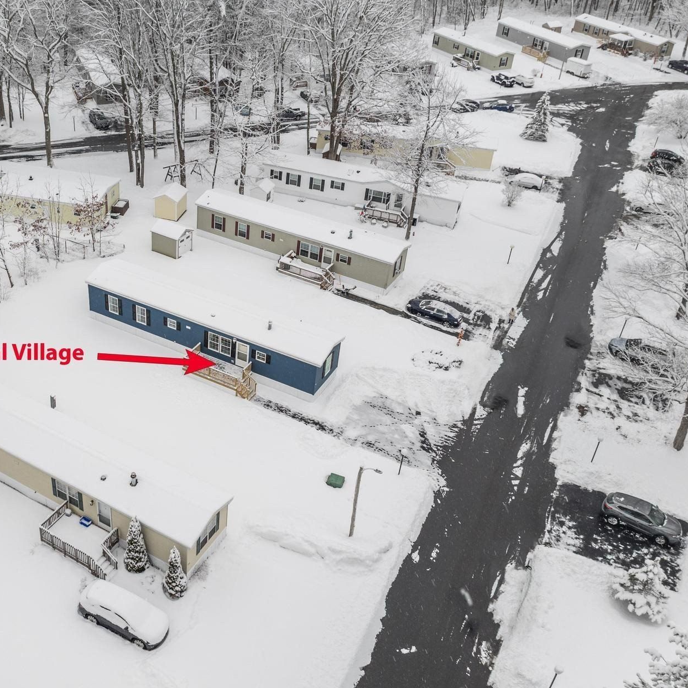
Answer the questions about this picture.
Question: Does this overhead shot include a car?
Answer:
Yes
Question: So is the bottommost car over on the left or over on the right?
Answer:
left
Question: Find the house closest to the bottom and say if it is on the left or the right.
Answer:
left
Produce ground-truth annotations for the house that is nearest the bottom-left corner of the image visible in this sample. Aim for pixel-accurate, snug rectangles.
[0,388,233,576]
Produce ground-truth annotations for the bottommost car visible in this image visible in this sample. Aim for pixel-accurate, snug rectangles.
[76,580,168,654]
